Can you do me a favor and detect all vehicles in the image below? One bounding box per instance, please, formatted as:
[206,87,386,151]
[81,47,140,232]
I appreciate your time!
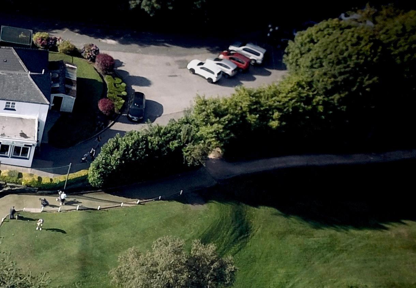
[126,89,147,122]
[184,61,227,86]
[226,43,270,66]
[204,57,242,79]
[215,51,254,73]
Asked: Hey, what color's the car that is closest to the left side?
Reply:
black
